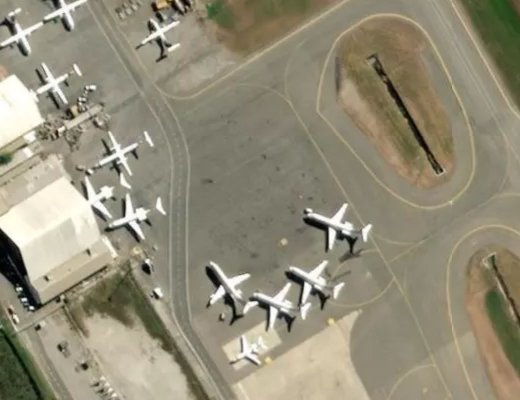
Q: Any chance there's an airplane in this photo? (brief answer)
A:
Yes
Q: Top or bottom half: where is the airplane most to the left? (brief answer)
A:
top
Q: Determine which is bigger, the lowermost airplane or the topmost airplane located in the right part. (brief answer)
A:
the topmost airplane located in the right part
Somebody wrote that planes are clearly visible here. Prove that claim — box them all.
[43,0,88,30]
[210,263,261,315]
[109,194,167,239]
[100,131,153,174]
[253,281,314,331]
[37,62,83,102]
[306,203,374,250]
[142,19,180,51]
[236,336,269,364]
[289,259,346,307]
[0,9,46,54]
[89,173,133,214]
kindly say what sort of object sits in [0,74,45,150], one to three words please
hangar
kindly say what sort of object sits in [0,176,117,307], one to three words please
hangar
